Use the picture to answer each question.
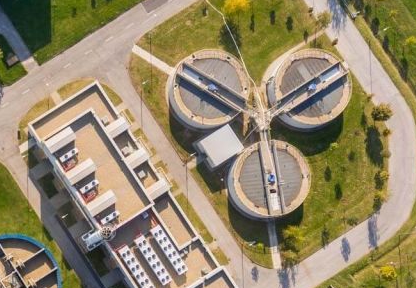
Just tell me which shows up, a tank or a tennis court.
tank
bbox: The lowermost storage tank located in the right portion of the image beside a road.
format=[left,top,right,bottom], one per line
[224,133,312,220]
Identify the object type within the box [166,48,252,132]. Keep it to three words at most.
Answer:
storage tank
